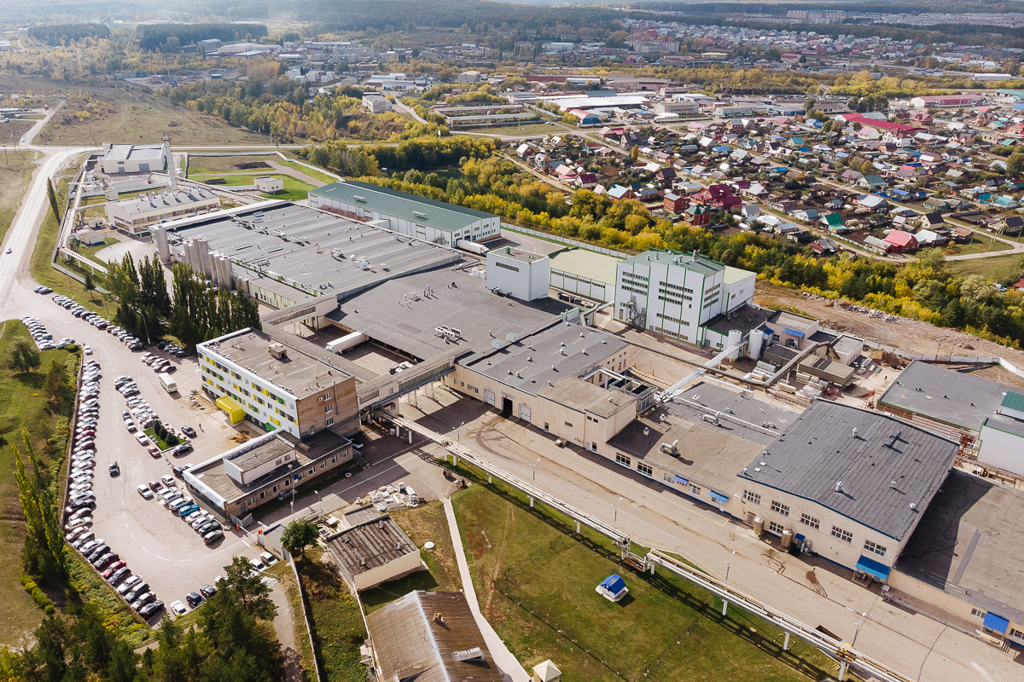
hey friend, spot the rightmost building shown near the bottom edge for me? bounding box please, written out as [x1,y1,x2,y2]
[883,467,1024,660]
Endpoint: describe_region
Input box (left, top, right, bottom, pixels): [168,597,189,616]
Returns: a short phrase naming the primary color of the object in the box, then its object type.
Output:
white car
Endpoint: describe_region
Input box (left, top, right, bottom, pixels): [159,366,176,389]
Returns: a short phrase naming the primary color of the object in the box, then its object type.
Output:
white vehicle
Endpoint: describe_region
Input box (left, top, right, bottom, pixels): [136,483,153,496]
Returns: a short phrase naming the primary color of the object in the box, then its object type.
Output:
white vehicle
